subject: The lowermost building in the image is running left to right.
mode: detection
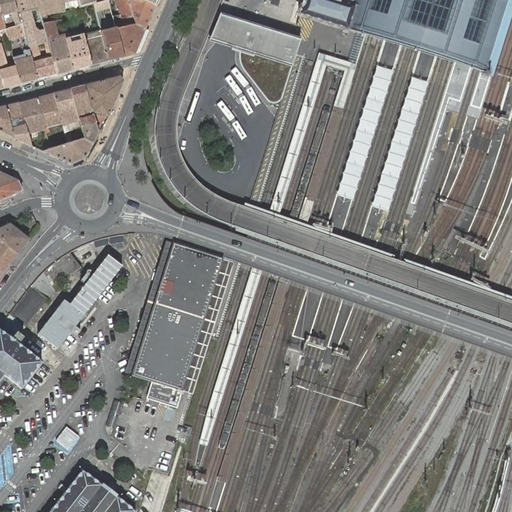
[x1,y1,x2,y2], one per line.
[48,472,136,512]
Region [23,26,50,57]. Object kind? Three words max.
house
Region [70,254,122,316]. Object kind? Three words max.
building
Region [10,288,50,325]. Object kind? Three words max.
shed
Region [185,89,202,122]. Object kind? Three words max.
vehicle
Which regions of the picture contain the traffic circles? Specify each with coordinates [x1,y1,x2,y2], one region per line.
[54,164,124,234]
